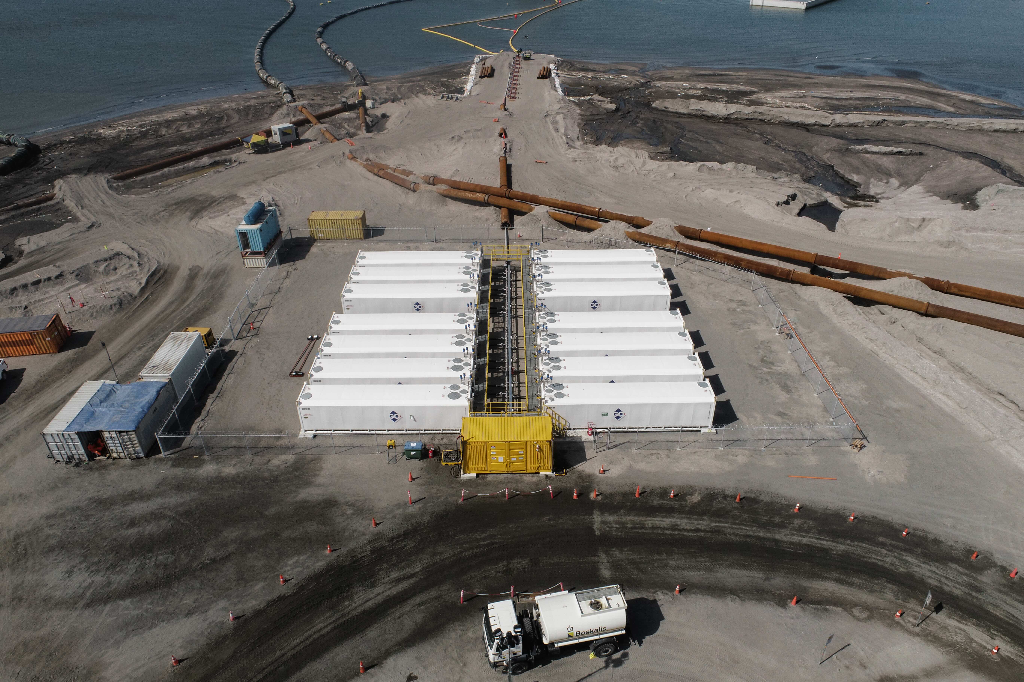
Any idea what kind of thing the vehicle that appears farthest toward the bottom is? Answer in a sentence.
Specifically, the vehicle that appears farthest toward the bottom is a truck.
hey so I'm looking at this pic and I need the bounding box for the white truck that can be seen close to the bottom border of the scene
[481,578,634,677]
